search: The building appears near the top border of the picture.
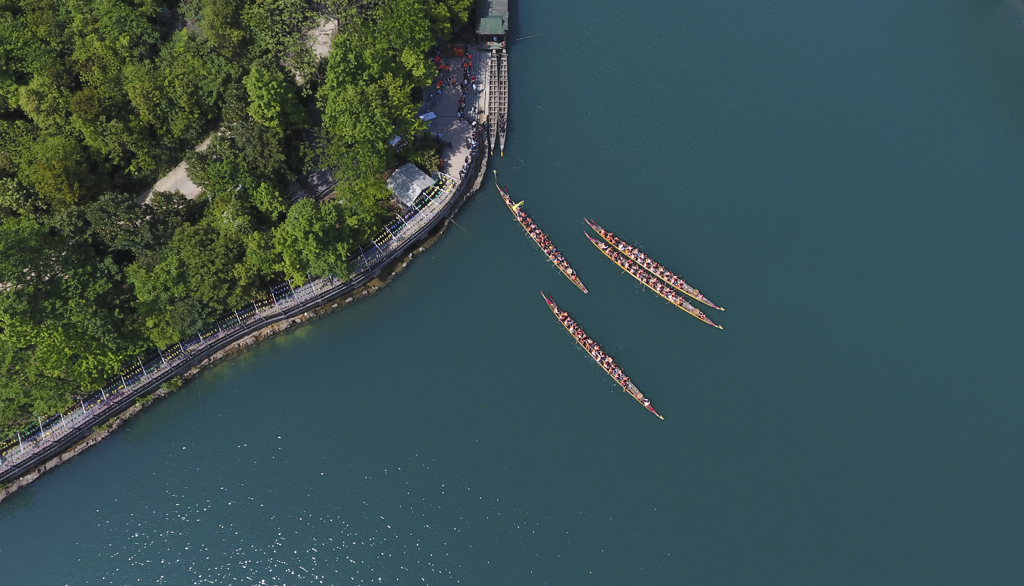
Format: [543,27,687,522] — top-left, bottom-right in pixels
[476,0,509,52]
